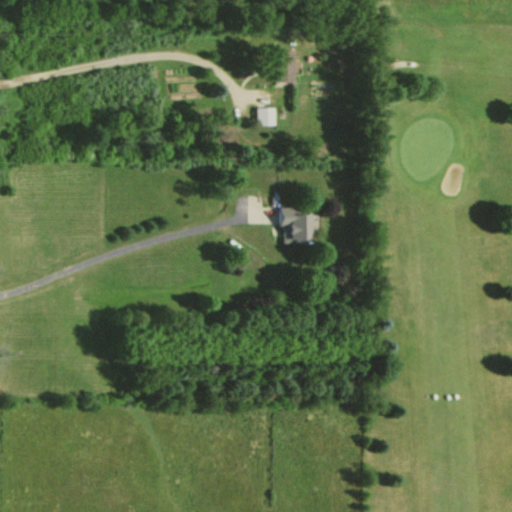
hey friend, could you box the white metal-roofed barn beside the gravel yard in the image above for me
[258,107,277,126]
